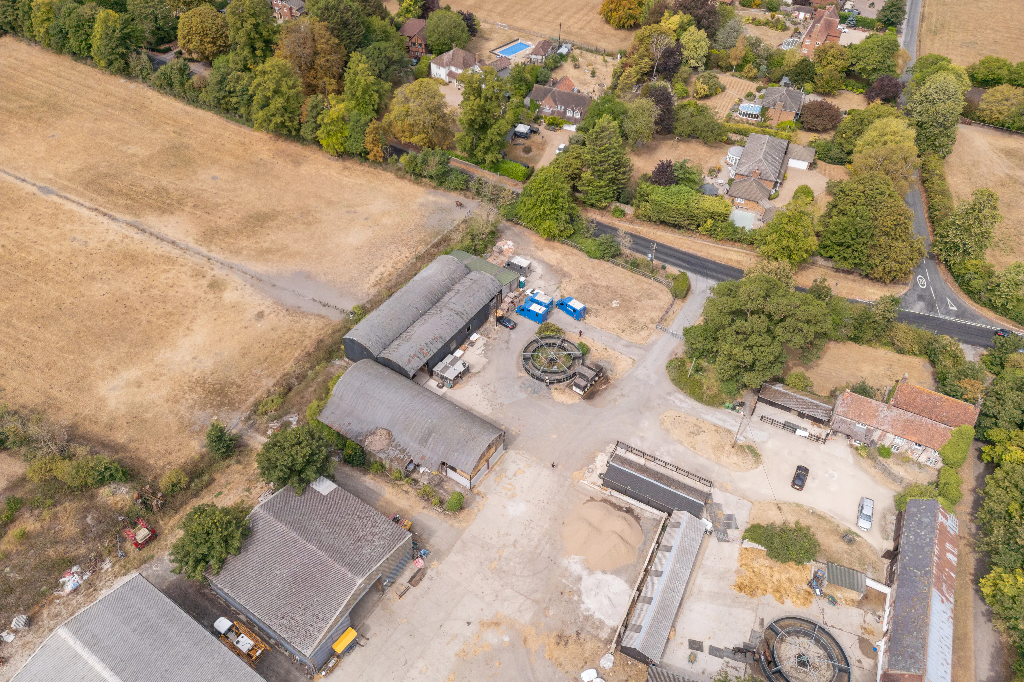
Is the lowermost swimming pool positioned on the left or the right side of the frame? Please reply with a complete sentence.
The lowermost swimming pool is on the right side of the image.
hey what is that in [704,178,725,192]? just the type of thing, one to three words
umbrella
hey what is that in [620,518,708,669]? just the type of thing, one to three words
building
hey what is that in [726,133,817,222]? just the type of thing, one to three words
house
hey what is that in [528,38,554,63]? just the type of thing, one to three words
shed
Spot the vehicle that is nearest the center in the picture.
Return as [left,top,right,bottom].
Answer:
[494,314,519,328]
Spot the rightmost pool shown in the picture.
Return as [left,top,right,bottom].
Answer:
[729,209,756,229]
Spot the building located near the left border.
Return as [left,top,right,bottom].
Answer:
[12,570,274,682]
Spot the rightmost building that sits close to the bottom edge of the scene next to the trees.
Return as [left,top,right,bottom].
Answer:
[882,501,960,682]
